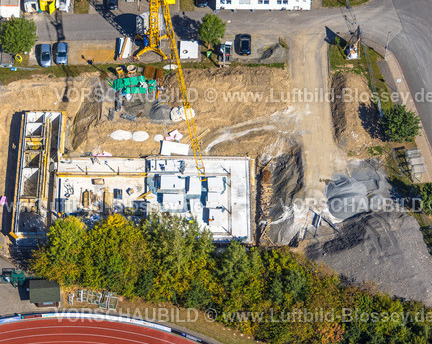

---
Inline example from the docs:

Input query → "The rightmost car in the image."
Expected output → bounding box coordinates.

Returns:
[239,30,253,55]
